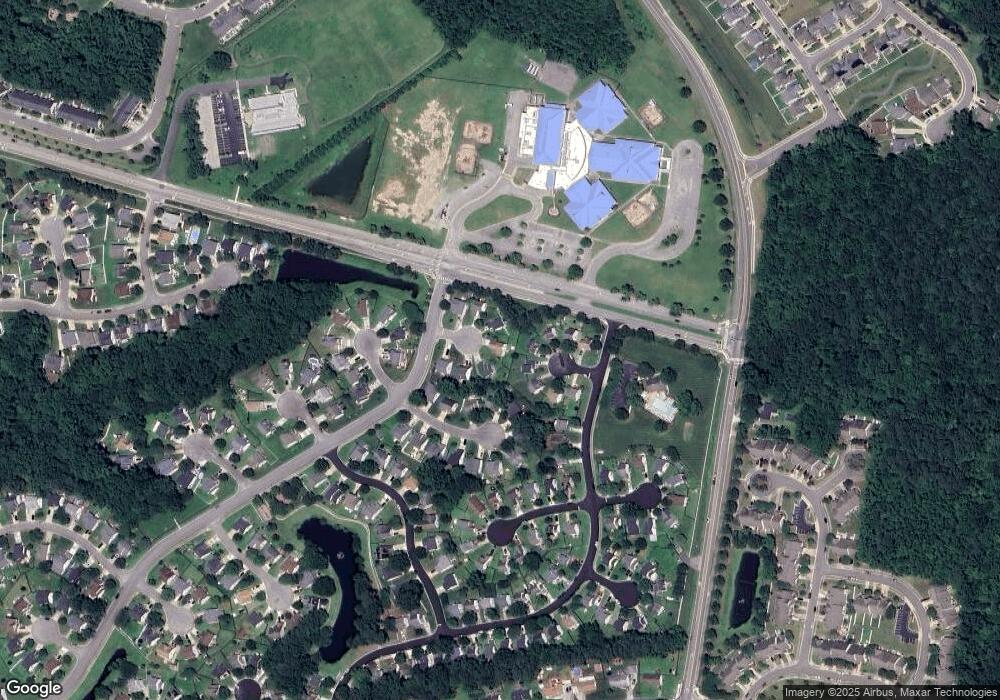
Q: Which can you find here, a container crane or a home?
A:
home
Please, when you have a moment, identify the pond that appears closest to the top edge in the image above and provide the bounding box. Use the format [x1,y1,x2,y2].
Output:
[311,141,372,203]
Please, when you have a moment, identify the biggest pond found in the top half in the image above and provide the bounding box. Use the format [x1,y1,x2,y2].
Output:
[277,250,418,297]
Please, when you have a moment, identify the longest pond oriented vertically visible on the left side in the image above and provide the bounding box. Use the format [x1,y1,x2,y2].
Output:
[298,515,355,662]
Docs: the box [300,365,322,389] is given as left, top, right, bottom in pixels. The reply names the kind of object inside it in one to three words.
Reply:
house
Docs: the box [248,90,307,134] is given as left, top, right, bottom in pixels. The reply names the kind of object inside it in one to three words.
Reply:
building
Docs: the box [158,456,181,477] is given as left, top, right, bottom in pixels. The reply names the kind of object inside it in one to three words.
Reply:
house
